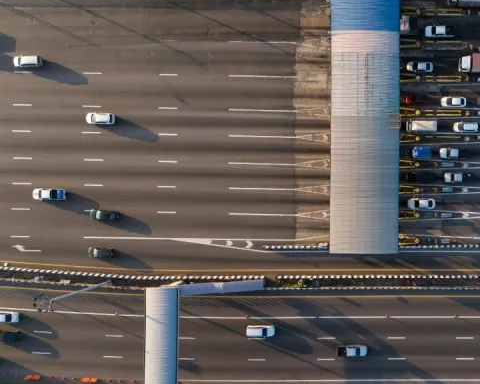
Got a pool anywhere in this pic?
No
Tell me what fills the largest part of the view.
paved ground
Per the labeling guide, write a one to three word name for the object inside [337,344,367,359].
vehicle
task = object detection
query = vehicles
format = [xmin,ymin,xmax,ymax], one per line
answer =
[13,55,44,69]
[440,94,467,108]
[446,0,480,8]
[407,119,439,133]
[444,170,471,184]
[407,197,435,211]
[86,111,116,125]
[453,120,478,134]
[245,325,276,339]
[405,171,437,185]
[459,53,480,72]
[407,60,434,73]
[0,311,21,325]
[405,92,428,106]
[399,17,419,33]
[91,208,120,222]
[88,246,116,259]
[32,187,66,201]
[337,344,367,359]
[0,331,23,345]
[424,24,455,38]
[440,147,471,161]
[399,146,413,160]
